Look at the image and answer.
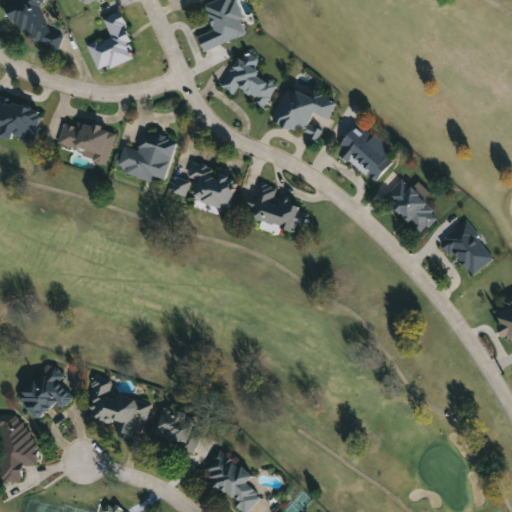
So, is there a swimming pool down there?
Yes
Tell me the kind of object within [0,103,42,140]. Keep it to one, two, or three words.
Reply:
house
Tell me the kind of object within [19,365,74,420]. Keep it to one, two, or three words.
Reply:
house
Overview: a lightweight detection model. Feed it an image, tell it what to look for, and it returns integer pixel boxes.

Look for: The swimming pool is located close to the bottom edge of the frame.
[254,470,285,500]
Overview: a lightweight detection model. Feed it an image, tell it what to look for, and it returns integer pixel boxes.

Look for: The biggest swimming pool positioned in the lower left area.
[112,376,147,394]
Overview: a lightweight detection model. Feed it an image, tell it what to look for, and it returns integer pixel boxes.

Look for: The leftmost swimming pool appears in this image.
[64,149,94,169]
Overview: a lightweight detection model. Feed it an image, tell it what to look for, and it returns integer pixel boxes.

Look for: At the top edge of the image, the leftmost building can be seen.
[3,0,66,50]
